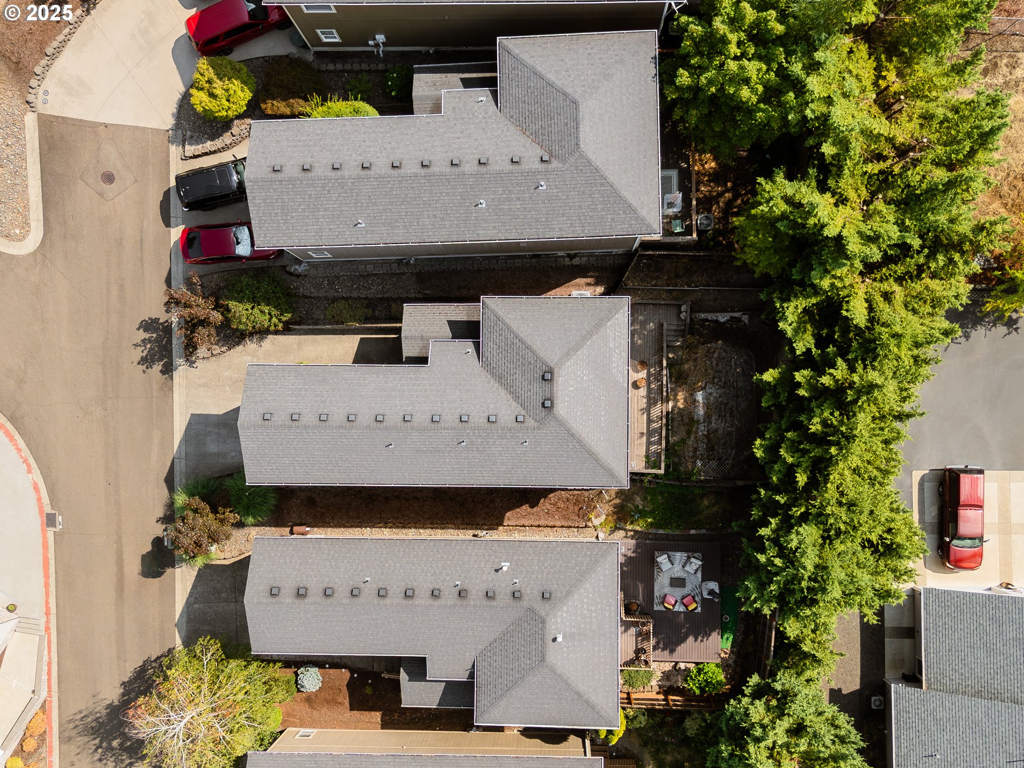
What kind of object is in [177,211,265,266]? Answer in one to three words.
car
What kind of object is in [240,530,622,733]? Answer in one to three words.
house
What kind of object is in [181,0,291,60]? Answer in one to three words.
car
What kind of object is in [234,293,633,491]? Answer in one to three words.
house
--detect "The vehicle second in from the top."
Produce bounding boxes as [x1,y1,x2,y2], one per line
[175,150,245,216]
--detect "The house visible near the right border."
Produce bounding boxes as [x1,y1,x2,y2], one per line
[885,585,1024,768]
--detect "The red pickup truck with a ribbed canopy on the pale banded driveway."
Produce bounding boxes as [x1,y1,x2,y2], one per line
[934,464,993,573]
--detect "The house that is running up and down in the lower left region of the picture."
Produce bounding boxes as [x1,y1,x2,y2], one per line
[0,599,33,671]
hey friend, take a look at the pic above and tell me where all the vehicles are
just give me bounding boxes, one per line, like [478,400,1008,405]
[181,0,291,60]
[177,211,265,266]
[934,464,993,573]
[175,150,245,216]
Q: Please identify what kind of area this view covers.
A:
residential area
